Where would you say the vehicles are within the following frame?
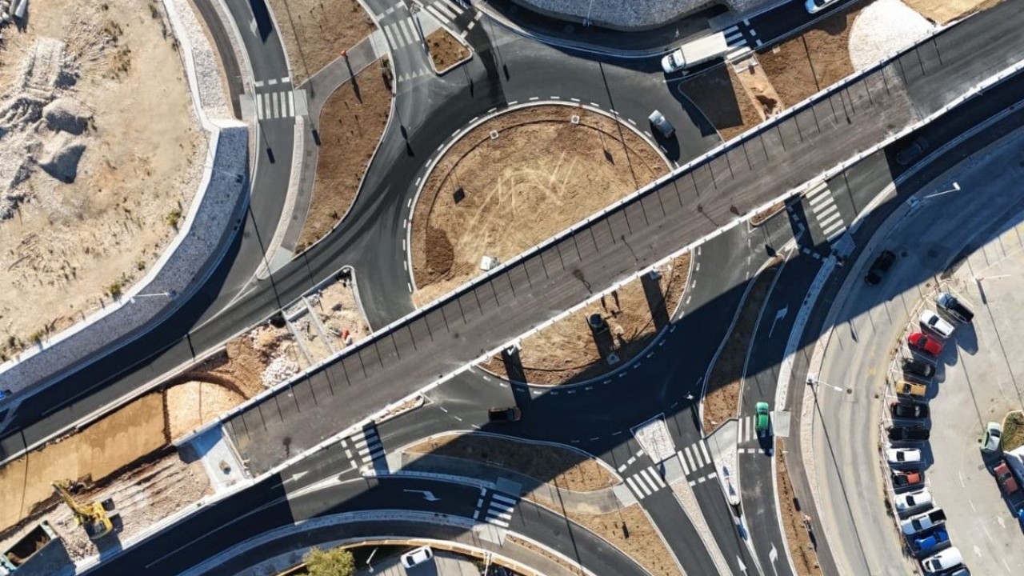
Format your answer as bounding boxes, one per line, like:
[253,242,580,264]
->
[659,25,732,71]
[488,405,521,422]
[753,400,770,431]
[861,249,897,285]
[941,563,982,576]
[900,356,937,378]
[912,529,950,551]
[888,425,929,442]
[400,545,433,568]
[648,109,675,140]
[920,547,966,573]
[899,507,948,534]
[890,469,923,488]
[0,514,70,576]
[491,556,510,576]
[892,490,932,511]
[886,447,921,464]
[933,292,976,325]
[980,420,1003,452]
[894,380,927,396]
[804,0,842,15]
[906,332,943,357]
[51,479,123,545]
[917,309,955,338]
[889,401,929,419]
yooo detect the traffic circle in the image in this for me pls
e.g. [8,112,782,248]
[380,72,722,414]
